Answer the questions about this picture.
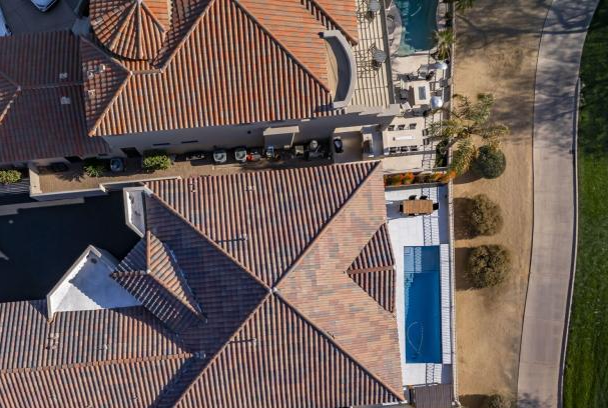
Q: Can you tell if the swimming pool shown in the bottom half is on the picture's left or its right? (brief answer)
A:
right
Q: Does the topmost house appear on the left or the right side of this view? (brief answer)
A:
left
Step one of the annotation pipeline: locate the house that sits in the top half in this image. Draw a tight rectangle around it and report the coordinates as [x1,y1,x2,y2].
[0,0,400,170]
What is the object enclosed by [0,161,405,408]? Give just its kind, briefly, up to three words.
house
